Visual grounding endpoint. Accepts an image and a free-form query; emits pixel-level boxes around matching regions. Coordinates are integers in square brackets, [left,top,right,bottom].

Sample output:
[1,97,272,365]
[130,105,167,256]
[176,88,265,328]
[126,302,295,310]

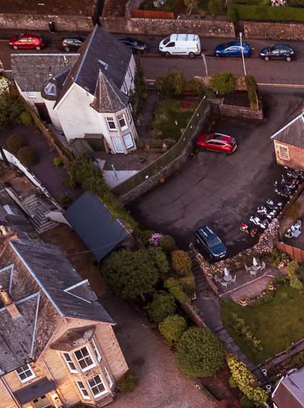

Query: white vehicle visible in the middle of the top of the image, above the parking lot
[157,32,205,60]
